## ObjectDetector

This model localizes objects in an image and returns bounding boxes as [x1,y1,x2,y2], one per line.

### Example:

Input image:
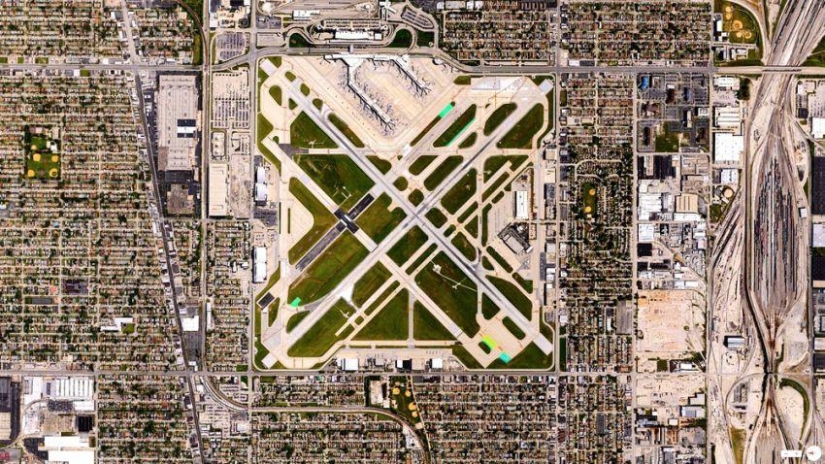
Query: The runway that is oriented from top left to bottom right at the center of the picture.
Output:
[261,135,491,367]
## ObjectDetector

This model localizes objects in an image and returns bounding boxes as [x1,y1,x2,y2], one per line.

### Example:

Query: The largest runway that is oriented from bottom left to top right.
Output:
[272,82,543,358]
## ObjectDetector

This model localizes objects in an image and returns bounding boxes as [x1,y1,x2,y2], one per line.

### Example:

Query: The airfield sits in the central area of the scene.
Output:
[253,54,555,371]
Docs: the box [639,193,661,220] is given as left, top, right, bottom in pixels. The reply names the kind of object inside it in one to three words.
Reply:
building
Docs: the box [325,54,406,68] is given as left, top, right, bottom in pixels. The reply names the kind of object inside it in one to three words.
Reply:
building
